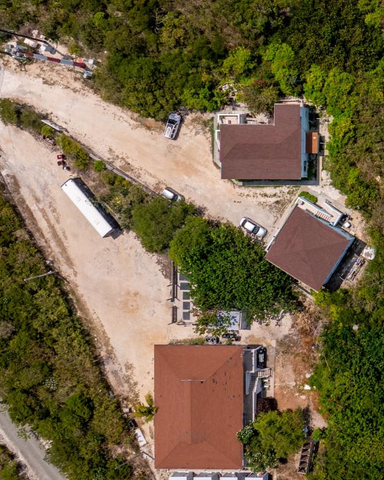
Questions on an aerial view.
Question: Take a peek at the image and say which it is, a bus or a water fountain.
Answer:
bus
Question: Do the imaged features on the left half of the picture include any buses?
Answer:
Yes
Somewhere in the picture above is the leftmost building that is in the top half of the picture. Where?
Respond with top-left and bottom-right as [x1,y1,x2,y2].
[216,100,308,179]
